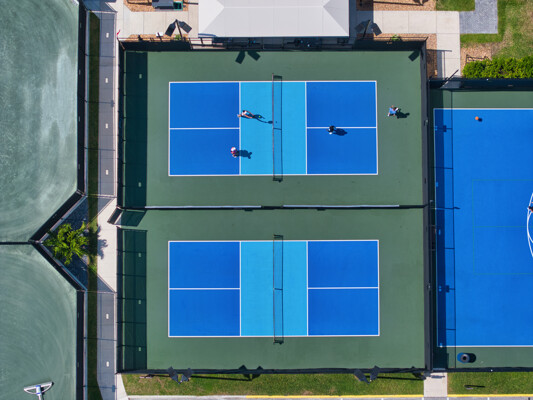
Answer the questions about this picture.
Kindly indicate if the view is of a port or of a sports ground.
sports ground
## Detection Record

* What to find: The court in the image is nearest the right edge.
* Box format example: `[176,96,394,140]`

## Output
[433,108,533,347]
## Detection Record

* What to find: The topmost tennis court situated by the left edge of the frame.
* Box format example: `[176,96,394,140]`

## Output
[0,0,82,240]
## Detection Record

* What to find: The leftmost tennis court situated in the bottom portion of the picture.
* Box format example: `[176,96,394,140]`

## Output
[0,242,80,400]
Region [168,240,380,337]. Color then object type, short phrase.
blue sports court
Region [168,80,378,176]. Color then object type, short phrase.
blue sports court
